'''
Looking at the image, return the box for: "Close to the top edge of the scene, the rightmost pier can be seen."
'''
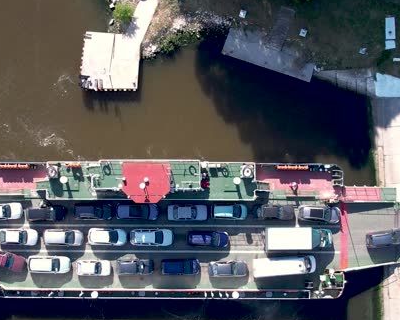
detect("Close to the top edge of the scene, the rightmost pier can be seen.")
[222,6,313,83]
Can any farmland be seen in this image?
No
